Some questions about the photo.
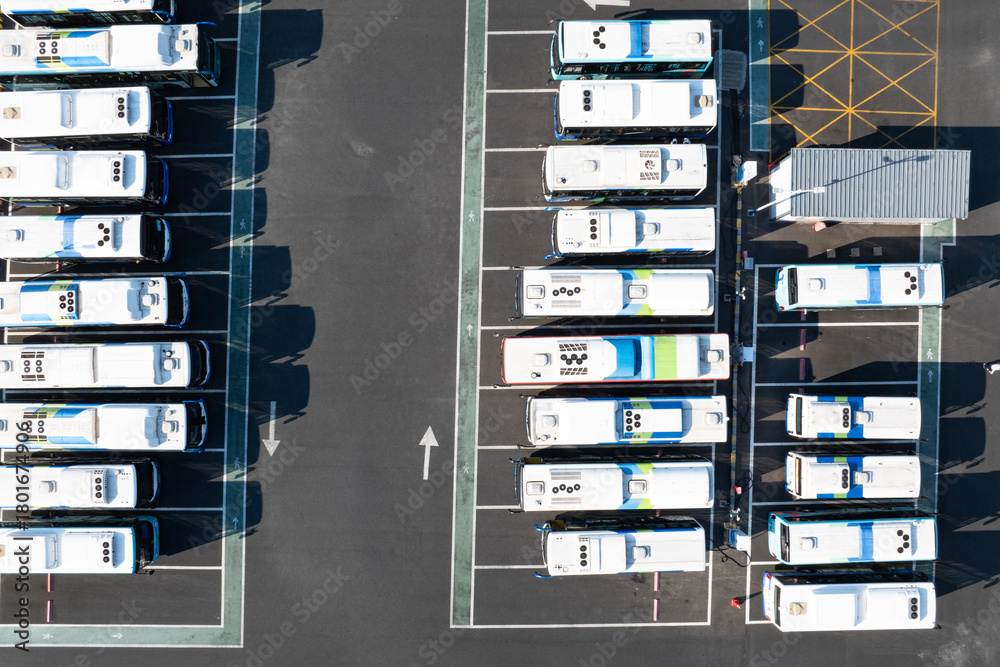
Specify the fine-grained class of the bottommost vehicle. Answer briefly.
bus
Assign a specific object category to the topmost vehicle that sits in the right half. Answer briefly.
bus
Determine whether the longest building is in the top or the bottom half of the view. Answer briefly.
top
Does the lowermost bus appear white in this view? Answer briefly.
Yes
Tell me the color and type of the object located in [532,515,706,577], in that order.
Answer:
white bus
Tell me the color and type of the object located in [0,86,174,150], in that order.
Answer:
white bus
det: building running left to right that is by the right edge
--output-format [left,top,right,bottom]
[770,146,974,226]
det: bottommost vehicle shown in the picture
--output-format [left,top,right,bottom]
[765,565,938,632]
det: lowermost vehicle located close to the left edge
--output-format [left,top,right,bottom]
[0,513,162,574]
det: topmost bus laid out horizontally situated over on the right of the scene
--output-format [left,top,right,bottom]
[548,20,712,79]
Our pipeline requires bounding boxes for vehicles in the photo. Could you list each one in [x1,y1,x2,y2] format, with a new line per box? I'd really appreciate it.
[494,333,730,389]
[771,507,938,564]
[765,565,938,632]
[778,261,942,311]
[542,207,716,259]
[540,144,707,200]
[548,20,712,79]
[521,390,728,447]
[0,22,219,91]
[2,0,181,28]
[0,148,172,207]
[532,515,706,577]
[0,513,162,574]
[784,447,921,501]
[0,335,211,392]
[784,390,921,442]
[0,273,189,329]
[0,86,174,150]
[514,266,714,321]
[0,211,176,264]
[550,79,717,141]
[514,454,715,513]
[0,398,207,451]
[0,456,165,510]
